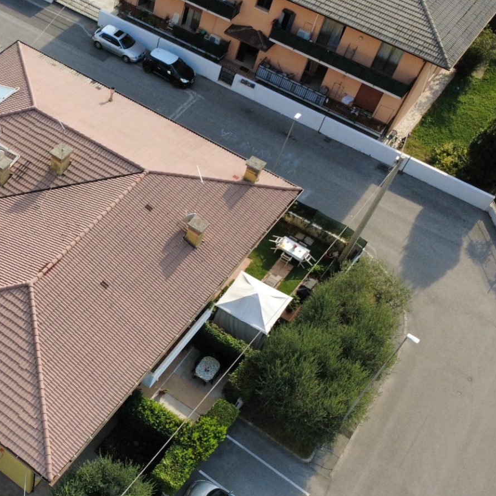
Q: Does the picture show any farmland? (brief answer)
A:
No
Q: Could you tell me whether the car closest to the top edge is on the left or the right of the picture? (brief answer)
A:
left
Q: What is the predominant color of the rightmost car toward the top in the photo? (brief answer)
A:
black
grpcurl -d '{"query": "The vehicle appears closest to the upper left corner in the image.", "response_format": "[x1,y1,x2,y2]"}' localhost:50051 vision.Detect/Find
[92,25,148,64]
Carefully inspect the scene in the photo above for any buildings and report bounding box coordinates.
[116,0,496,142]
[0,41,305,495]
